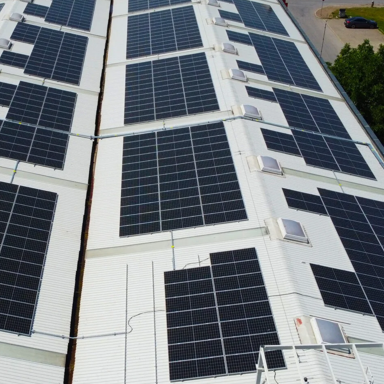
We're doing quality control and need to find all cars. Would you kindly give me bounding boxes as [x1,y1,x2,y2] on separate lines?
[344,16,379,29]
